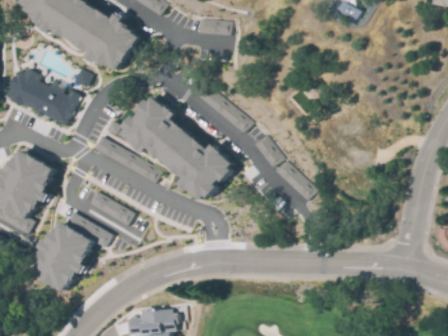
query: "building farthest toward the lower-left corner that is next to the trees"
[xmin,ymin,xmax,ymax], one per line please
[38,224,97,289]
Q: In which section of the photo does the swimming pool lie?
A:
top left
